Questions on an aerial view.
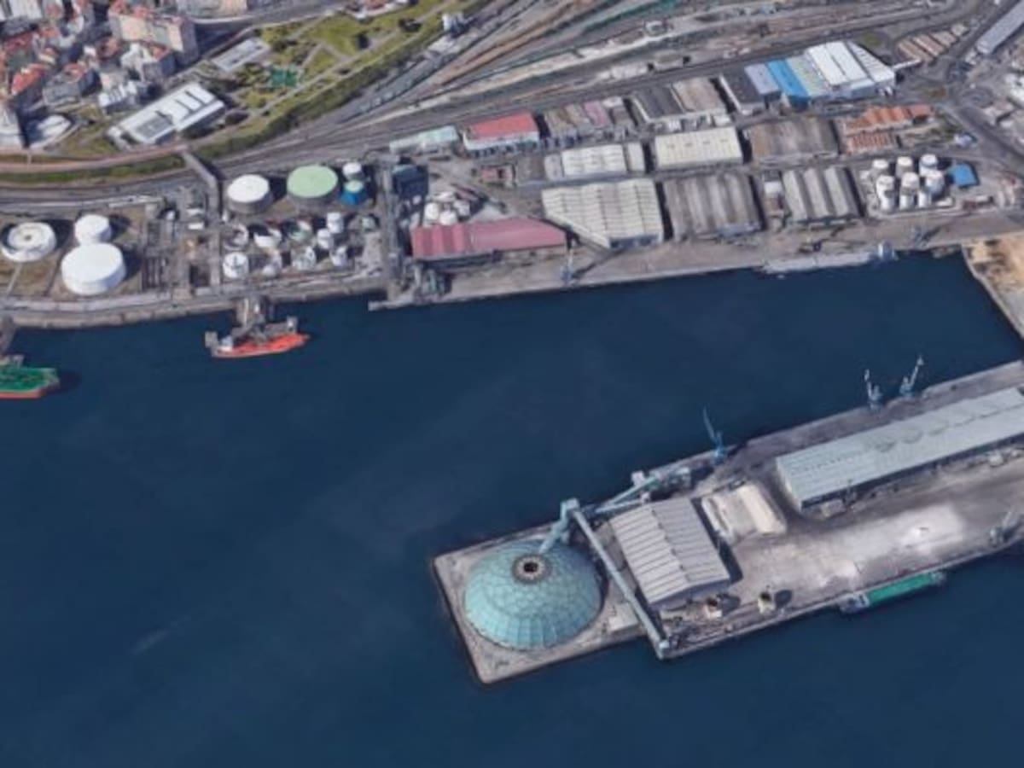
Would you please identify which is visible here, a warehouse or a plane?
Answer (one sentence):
It is a warehouse that can be seen here.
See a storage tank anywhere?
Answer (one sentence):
Yes, a storage tank appears in the view.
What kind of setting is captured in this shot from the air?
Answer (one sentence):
The picture captures a port.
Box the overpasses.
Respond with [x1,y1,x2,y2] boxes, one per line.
[177,143,219,205]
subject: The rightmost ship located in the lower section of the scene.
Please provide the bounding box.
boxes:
[839,571,947,617]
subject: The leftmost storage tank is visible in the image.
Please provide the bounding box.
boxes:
[1,221,59,268]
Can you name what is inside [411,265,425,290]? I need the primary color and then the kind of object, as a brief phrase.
gray work vehicle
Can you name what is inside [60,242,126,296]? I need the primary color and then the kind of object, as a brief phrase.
white storage tank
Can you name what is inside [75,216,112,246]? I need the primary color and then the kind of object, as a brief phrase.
white storage tank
